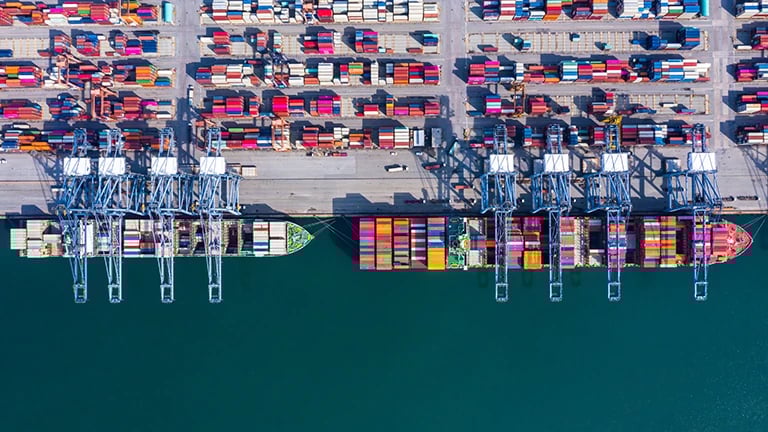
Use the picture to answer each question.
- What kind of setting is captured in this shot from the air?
port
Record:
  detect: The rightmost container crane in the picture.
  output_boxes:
[656,122,728,302]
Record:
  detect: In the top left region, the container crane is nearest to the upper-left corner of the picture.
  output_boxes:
[57,55,84,93]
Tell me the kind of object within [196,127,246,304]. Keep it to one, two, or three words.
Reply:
container crane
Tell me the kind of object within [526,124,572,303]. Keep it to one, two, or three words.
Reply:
container crane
